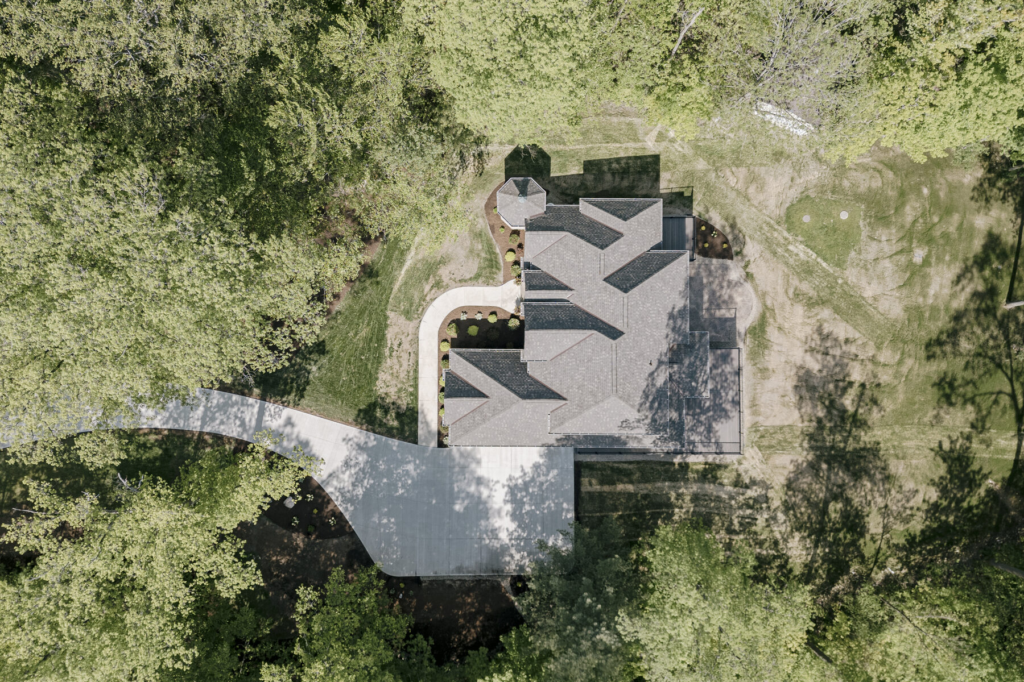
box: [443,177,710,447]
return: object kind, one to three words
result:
house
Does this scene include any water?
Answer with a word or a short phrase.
No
